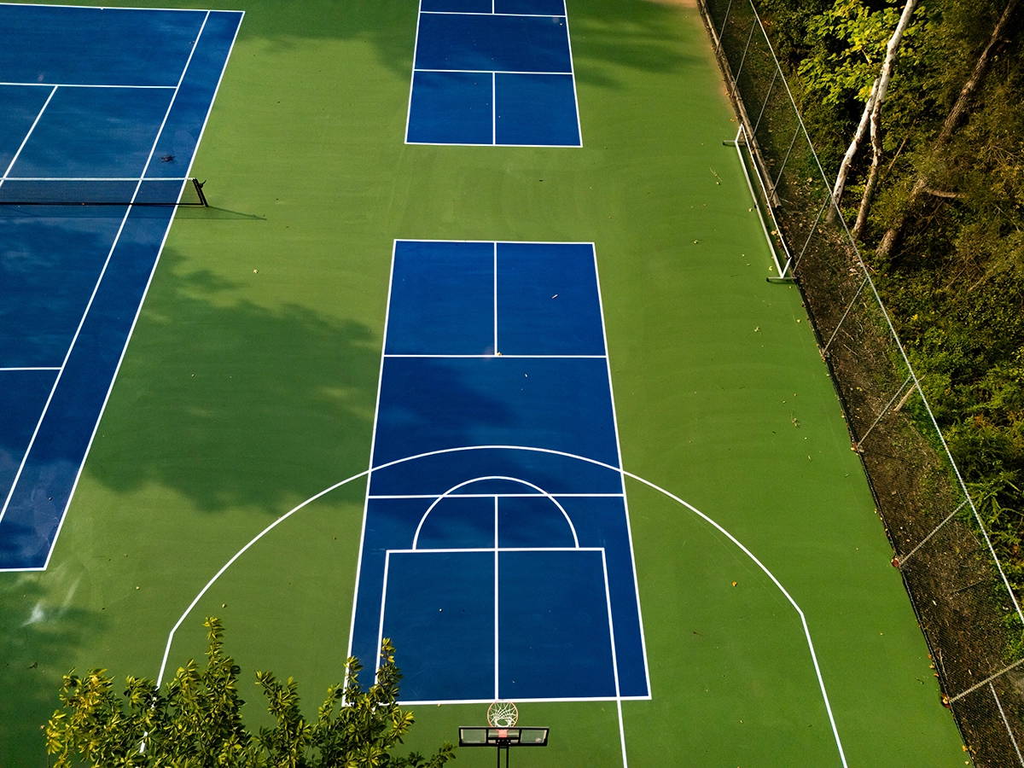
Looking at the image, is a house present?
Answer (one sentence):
No, the scene contains no house.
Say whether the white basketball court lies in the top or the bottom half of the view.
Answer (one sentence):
The bottom half of the photo is where the white basketball court is.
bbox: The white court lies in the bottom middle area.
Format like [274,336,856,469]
[137,445,847,768]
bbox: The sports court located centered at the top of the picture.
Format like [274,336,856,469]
[405,0,582,147]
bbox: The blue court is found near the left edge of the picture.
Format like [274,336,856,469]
[0,6,245,570]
